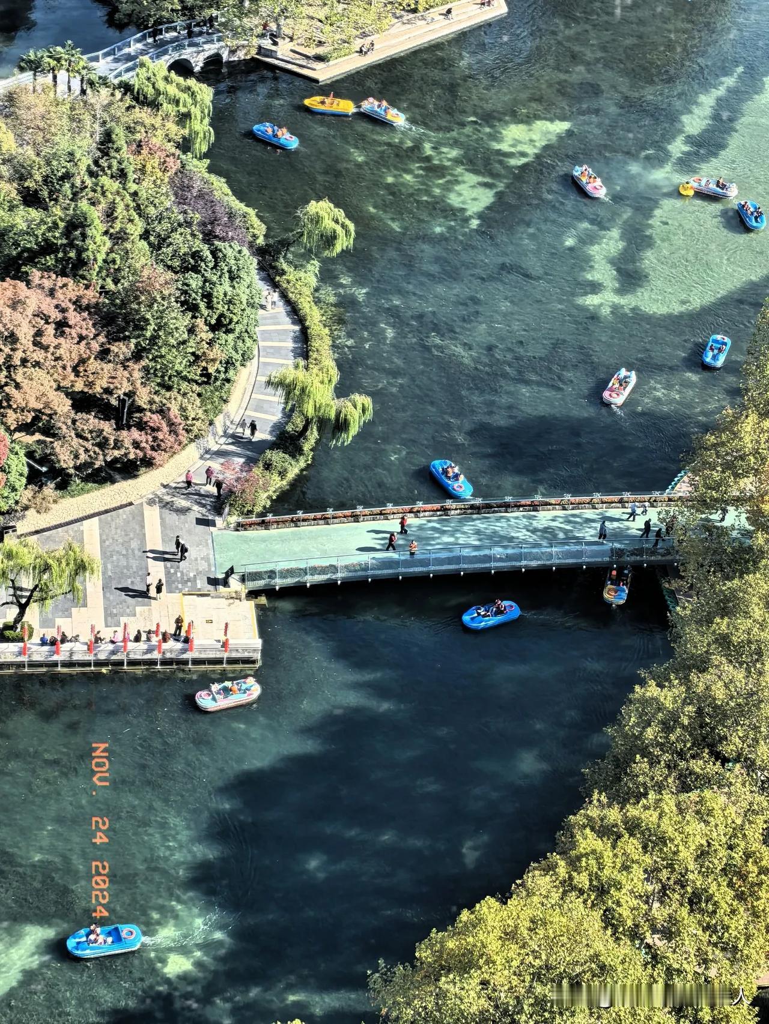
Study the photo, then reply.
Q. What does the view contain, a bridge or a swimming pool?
bridge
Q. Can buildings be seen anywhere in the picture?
No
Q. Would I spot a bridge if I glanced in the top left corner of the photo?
Yes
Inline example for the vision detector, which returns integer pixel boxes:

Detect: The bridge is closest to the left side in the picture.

[82,15,270,79]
